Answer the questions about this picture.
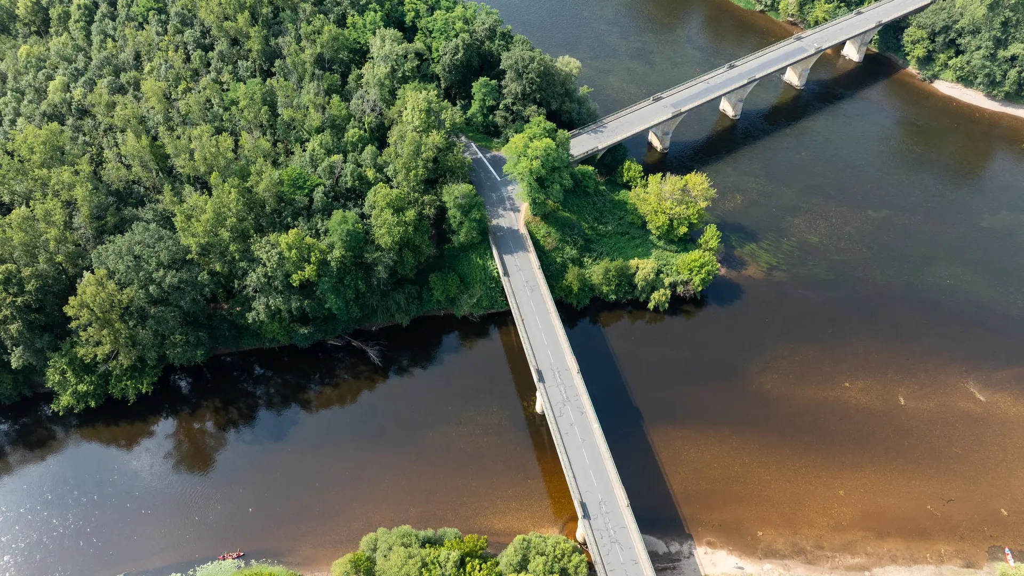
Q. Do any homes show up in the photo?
No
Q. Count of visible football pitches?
0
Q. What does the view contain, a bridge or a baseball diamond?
bridge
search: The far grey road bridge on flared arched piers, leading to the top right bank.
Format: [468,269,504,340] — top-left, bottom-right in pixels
[552,0,936,162]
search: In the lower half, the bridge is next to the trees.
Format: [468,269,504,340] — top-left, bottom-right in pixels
[489,227,654,576]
